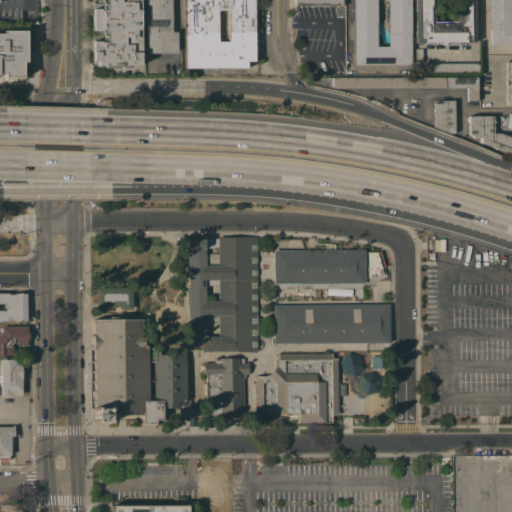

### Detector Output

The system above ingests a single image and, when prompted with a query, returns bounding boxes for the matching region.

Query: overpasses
[0,106,512,254]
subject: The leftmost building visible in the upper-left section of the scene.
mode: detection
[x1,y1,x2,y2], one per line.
[0,31,30,78]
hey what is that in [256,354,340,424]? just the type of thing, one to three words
building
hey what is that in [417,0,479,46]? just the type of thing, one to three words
building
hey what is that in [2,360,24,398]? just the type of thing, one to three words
house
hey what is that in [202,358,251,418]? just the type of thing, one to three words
house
